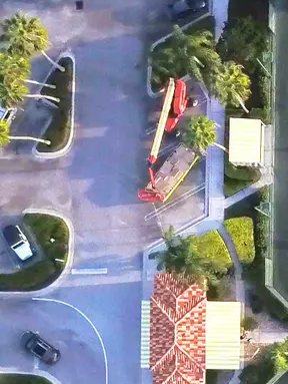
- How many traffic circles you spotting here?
0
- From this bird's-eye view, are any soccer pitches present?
No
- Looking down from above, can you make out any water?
No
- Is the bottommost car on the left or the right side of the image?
left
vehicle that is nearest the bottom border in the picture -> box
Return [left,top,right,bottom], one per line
[21,330,64,364]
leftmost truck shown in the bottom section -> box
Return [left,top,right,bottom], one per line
[0,221,38,266]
